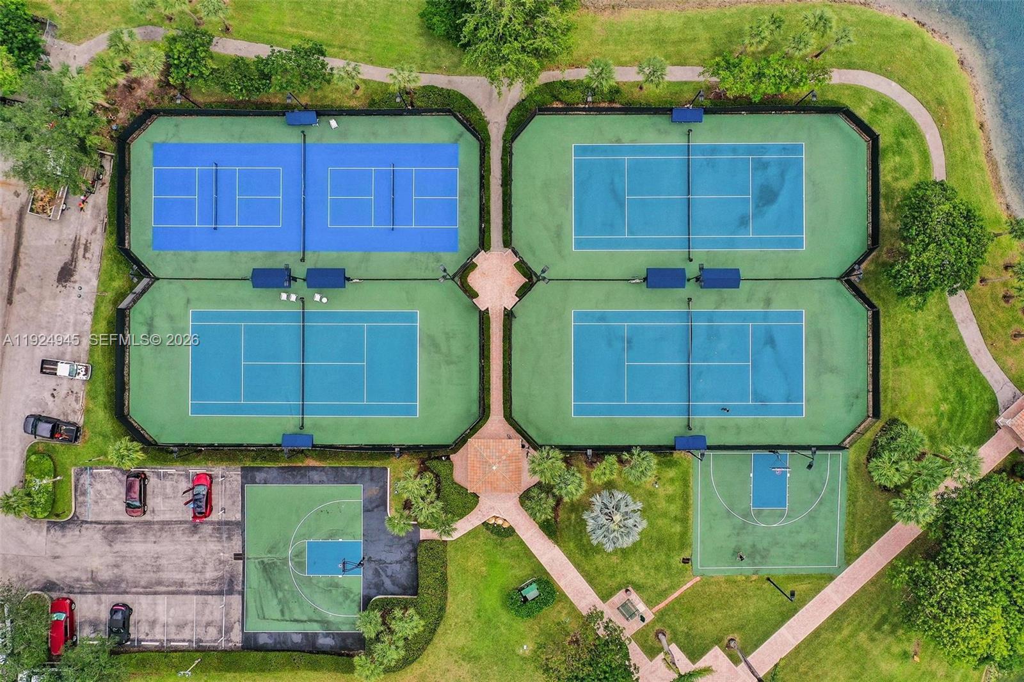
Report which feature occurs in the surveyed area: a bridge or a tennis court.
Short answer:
tennis court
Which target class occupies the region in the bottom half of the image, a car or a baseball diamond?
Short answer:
car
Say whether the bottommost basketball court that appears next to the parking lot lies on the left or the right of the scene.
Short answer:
left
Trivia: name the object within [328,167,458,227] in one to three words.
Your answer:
sports court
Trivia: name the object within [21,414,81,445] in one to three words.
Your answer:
truck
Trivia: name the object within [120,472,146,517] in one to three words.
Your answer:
car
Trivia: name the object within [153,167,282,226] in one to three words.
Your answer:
sports court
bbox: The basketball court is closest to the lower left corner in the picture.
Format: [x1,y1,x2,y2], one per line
[245,485,362,632]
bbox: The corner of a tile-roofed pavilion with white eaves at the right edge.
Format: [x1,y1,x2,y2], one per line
[983,382,1024,464]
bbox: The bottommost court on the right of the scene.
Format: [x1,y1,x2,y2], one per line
[693,451,847,575]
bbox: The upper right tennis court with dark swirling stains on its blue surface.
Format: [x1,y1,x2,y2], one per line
[512,114,868,279]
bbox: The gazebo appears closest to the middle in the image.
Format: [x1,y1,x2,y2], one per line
[468,438,522,493]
